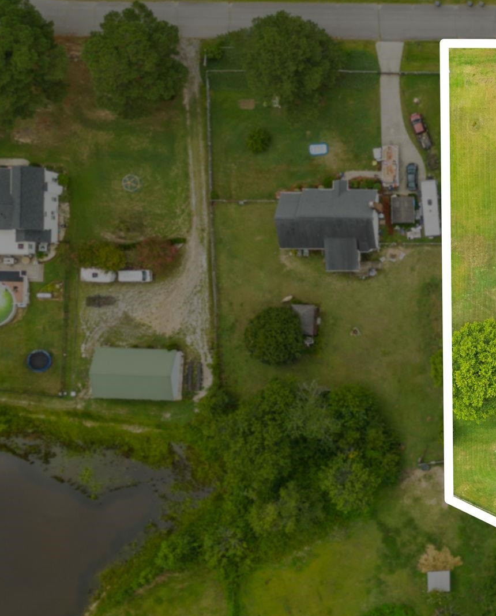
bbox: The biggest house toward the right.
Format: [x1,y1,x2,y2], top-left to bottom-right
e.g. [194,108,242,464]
[275,179,384,271]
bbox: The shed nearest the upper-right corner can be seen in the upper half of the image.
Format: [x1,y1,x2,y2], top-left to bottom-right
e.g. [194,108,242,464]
[391,195,415,224]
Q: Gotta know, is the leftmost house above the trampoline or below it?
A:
above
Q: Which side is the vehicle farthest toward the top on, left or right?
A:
right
